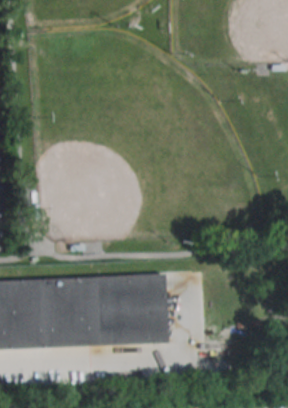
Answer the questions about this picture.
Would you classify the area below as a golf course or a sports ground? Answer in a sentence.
This looks like a sports ground.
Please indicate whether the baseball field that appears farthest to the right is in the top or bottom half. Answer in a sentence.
It is in the top half that the baseball field that appears farthest to the right appears.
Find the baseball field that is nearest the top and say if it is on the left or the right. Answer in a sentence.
The baseball field that is nearest the top is on the left side of the image.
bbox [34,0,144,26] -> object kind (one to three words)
baseball field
